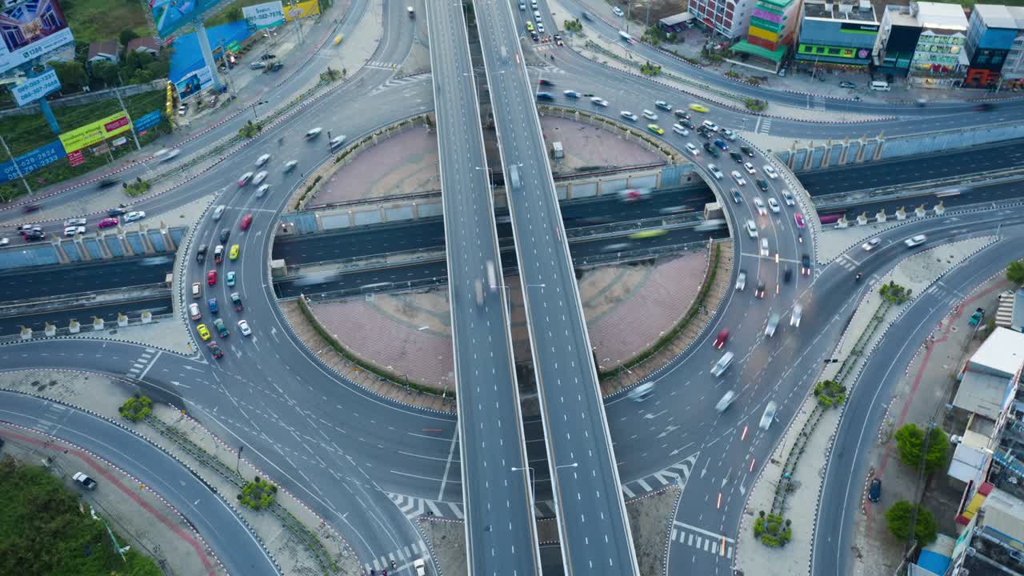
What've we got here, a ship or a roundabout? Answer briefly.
roundabout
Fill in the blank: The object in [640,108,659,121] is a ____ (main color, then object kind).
white vehicle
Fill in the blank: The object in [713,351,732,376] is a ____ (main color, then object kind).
white vehicle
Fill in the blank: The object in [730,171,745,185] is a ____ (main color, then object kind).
white car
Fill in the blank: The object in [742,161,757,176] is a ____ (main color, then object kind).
white car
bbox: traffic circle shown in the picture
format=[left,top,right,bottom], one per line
[181,67,822,505]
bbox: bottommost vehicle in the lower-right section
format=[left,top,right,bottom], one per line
[867,476,883,504]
